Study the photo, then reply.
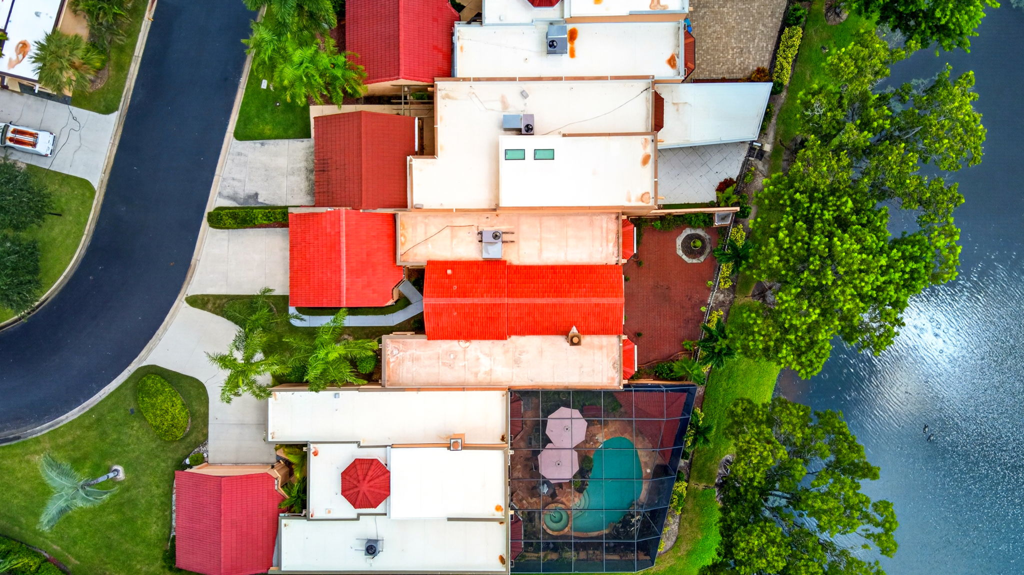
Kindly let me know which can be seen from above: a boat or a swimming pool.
swimming pool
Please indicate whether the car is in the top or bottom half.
top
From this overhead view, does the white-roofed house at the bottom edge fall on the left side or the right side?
left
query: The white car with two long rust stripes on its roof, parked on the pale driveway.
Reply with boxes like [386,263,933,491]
[0,120,57,157]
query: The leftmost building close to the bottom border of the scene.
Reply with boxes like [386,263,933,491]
[174,383,525,575]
